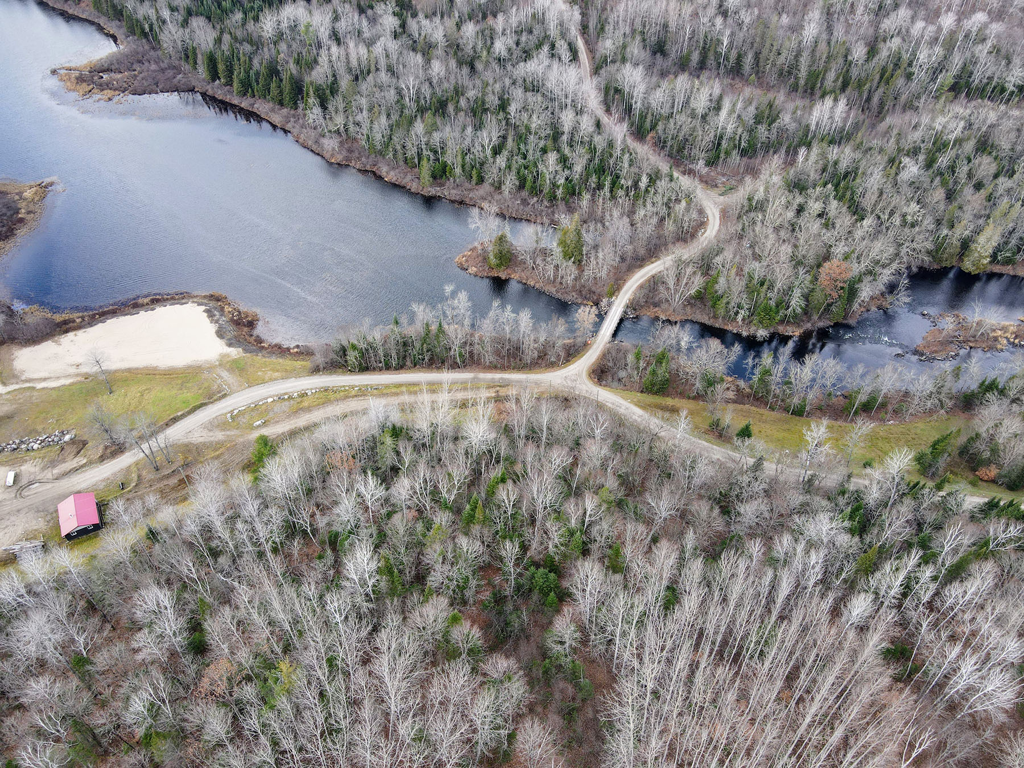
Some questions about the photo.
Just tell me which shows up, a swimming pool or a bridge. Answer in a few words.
bridge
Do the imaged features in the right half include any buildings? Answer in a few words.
No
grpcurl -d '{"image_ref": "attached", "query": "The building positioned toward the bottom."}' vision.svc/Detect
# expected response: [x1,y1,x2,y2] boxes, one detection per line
[55,488,115,538]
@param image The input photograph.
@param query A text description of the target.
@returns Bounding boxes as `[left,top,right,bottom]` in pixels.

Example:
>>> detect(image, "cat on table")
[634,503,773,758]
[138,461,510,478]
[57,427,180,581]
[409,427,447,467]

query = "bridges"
[590,295,627,341]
